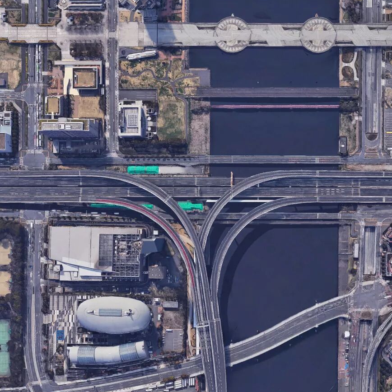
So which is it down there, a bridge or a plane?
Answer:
bridge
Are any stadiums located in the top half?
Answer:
No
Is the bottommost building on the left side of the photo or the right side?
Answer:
left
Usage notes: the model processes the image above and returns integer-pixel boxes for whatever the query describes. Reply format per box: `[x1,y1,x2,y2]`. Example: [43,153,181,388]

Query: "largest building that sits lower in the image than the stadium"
[67,343,146,370]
